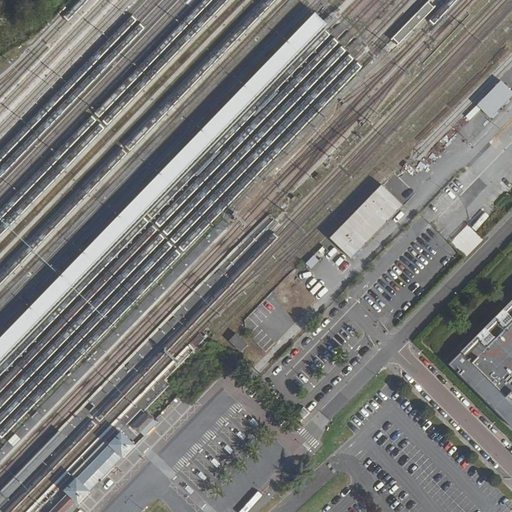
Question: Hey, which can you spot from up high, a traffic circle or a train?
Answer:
train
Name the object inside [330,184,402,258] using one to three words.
building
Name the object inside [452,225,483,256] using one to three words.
building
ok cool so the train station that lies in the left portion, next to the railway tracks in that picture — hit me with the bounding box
[0,0,282,512]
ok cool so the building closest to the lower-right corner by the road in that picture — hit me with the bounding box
[448,298,512,425]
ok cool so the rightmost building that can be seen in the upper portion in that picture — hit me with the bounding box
[478,81,512,118]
